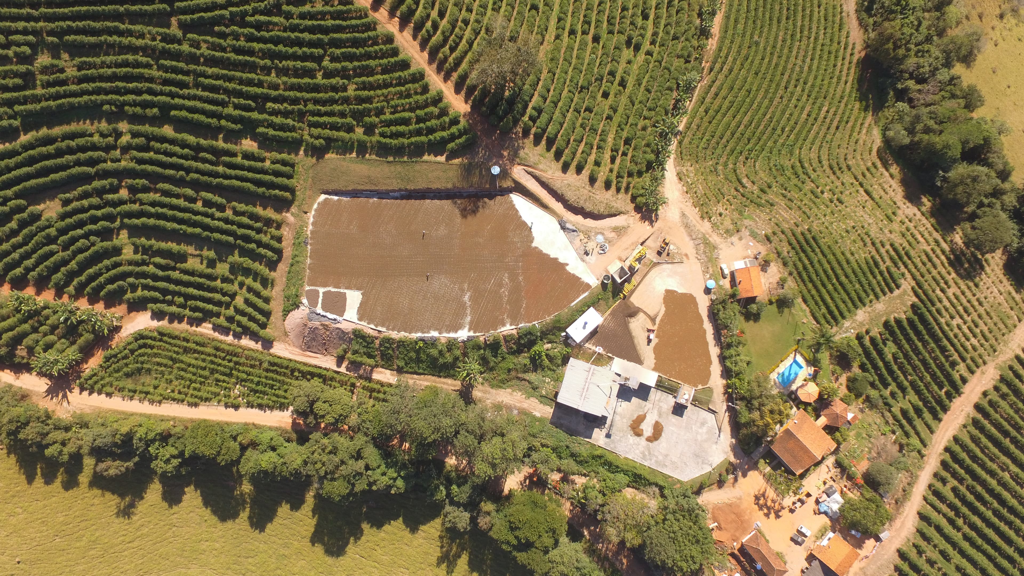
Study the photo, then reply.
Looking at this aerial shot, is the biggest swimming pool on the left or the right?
right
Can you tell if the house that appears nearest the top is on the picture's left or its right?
right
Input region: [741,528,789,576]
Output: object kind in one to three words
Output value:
house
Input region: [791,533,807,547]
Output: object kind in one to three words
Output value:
vehicle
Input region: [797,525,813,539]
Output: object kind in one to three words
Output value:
vehicle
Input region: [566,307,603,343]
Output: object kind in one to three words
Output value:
shed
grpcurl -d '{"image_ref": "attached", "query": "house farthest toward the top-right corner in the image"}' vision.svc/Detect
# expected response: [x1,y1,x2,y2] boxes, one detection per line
[732,259,764,299]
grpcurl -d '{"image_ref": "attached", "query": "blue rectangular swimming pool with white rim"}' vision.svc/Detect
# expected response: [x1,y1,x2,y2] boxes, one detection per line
[773,355,807,391]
